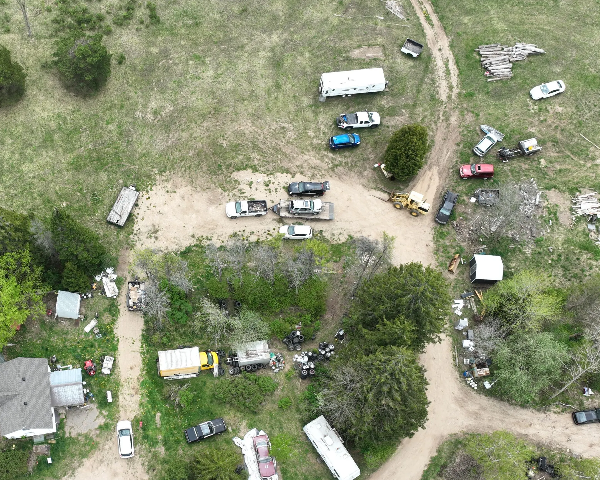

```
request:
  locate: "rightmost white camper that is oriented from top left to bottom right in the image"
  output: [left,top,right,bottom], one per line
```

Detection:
[300,417,359,480]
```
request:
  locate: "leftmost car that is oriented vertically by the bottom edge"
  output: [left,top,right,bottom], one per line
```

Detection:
[115,421,135,459]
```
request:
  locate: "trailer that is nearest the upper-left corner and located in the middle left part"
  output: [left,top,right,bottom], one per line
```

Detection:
[106,184,140,228]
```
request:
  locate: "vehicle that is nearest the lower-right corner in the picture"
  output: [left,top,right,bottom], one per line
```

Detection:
[569,406,600,426]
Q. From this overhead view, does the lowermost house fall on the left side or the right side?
left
